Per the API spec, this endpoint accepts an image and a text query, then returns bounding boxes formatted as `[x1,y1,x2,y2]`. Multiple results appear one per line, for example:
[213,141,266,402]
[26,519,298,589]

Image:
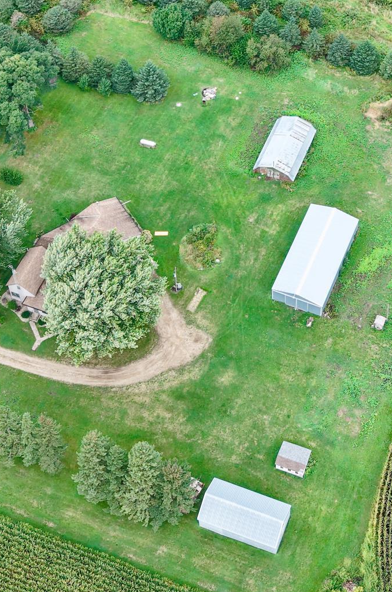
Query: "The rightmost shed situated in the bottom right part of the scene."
[275,440,312,478]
